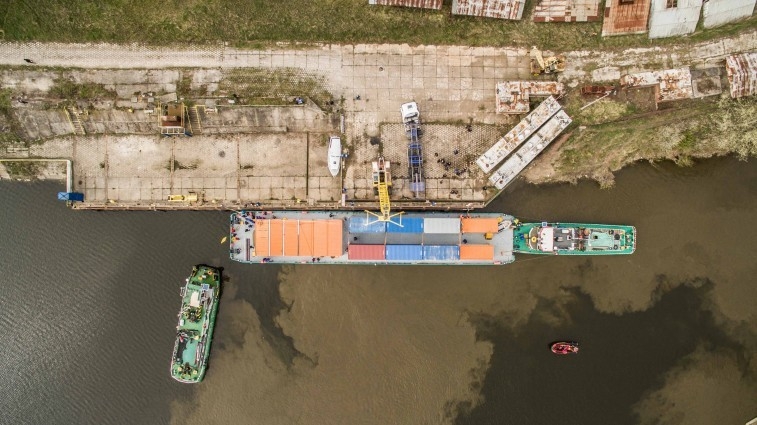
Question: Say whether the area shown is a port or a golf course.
port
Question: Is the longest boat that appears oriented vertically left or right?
left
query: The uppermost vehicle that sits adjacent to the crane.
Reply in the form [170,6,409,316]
[401,100,422,149]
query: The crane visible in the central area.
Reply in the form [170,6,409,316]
[367,157,396,220]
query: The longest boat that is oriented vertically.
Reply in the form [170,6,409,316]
[170,262,223,387]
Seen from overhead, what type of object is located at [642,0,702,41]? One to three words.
shed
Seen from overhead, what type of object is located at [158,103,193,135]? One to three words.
house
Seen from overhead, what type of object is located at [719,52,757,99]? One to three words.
shed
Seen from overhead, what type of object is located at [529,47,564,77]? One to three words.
work vehicle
